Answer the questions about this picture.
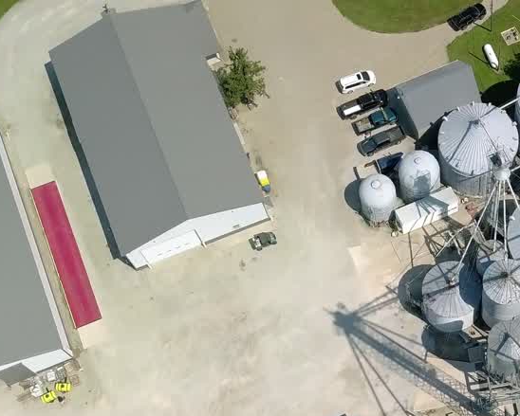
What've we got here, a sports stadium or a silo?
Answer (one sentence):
Looking from above, you can make out a silo.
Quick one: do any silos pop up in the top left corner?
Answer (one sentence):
No, no silo can be made out in the top left corner.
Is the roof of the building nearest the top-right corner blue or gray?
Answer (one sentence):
The roof of the building nearest the top-right corner is gray.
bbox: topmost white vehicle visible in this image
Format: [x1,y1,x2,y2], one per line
[334,66,380,95]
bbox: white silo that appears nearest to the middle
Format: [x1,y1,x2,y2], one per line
[360,175,398,225]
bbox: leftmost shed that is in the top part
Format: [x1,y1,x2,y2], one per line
[51,1,269,269]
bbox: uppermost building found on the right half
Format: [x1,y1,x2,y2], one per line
[393,59,483,146]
